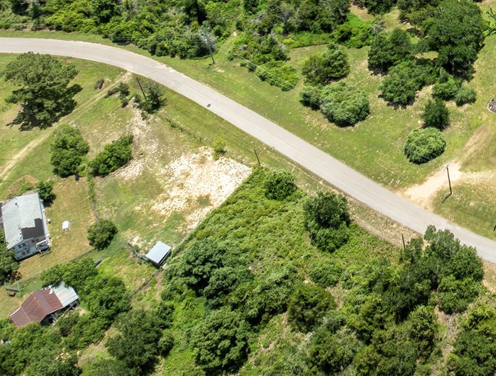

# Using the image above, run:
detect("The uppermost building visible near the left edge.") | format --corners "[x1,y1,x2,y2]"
[0,192,53,256]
